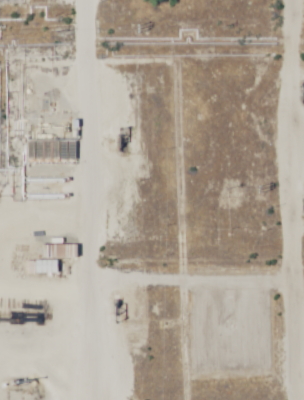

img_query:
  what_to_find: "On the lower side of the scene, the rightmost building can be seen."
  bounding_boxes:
[44,244,77,258]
